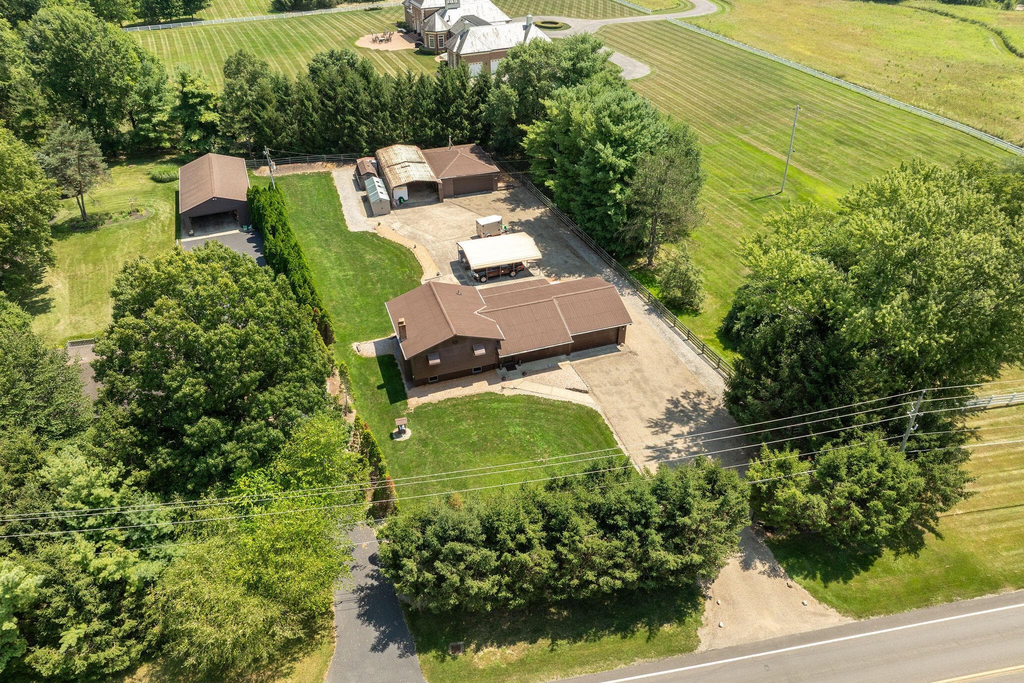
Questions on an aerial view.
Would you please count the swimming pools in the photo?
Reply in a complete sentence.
The photo contains no swimming pools.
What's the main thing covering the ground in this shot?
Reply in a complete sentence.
The scene is dominated by trees.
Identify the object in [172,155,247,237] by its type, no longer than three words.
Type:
building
